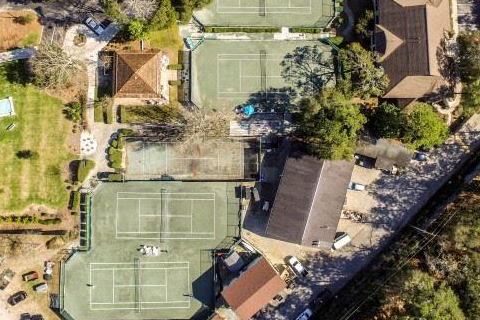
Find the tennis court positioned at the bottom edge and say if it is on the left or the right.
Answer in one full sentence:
The tennis court positioned at the bottom edge appears in the left half of the scene.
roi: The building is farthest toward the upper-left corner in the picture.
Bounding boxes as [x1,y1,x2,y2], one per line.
[115,51,163,99]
